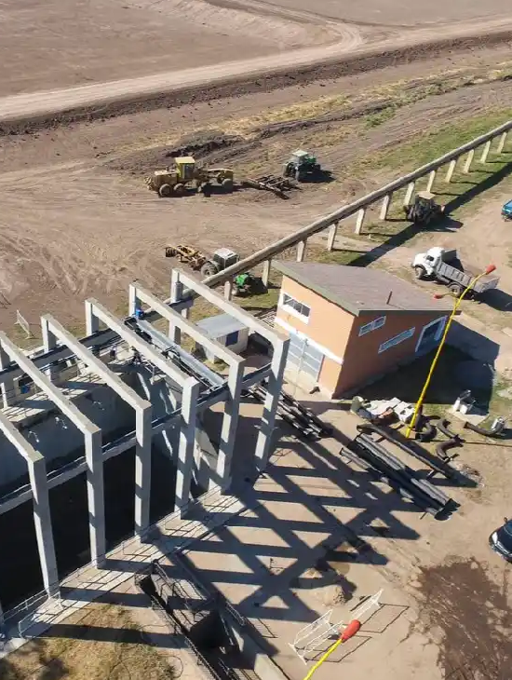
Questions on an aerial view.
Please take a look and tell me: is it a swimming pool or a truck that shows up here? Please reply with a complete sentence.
The one in the frame is a truck.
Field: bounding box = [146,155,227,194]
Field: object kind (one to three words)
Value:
work vehicle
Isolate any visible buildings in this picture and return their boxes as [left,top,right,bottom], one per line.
[194,311,252,365]
[270,261,456,399]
